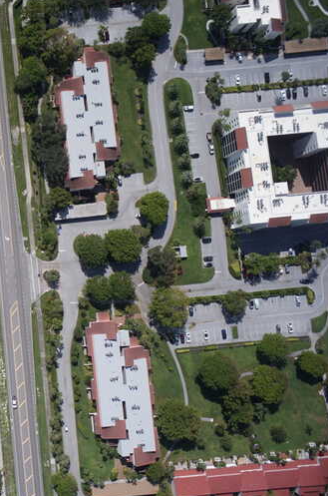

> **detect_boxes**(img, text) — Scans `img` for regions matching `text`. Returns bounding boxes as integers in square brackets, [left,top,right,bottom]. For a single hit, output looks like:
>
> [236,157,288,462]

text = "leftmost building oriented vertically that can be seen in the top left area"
[51,47,121,192]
